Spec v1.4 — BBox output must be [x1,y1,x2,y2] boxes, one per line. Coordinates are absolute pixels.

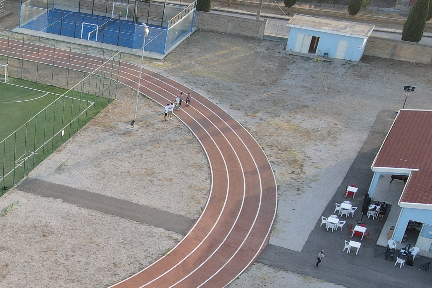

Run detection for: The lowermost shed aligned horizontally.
[278,16,375,62]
